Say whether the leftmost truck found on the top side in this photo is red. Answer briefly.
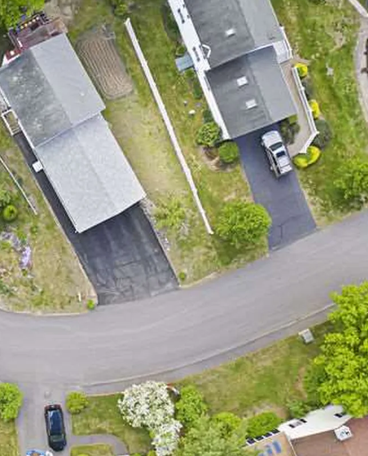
No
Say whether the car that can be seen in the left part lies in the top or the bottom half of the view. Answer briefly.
bottom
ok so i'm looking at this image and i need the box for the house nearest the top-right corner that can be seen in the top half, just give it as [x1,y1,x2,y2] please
[164,0,300,140]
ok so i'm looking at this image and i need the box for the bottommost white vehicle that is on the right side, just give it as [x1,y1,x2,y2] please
[258,126,297,181]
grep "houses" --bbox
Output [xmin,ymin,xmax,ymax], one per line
[0,16,147,233]
[236,405,368,456]
[164,0,300,140]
